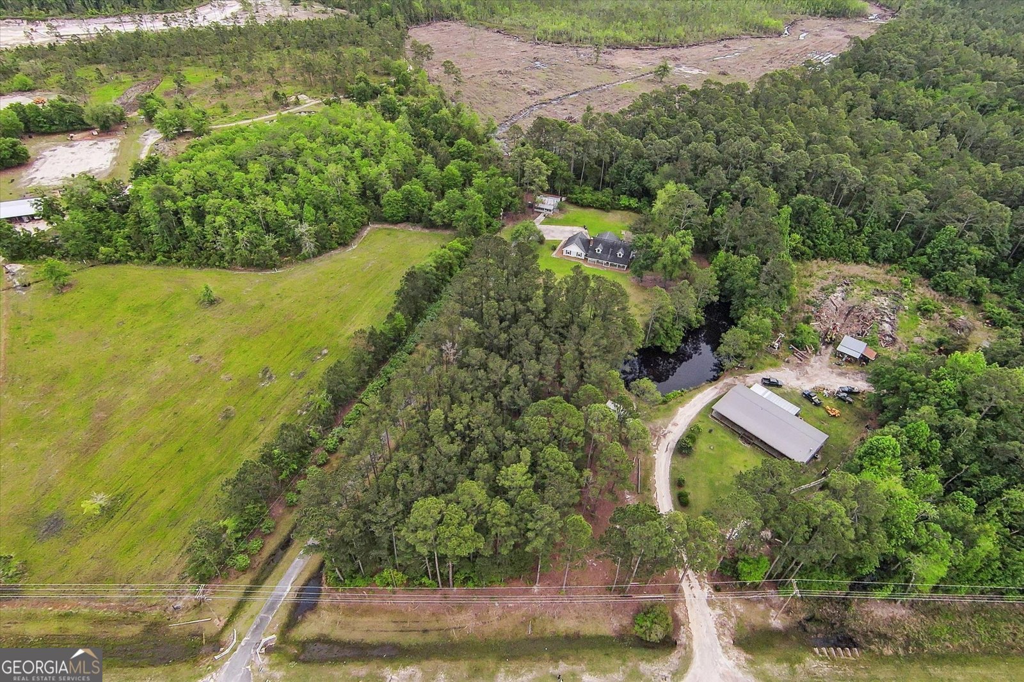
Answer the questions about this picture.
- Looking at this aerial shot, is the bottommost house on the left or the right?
right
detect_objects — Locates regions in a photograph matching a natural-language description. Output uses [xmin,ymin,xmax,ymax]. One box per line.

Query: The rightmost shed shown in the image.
[833,334,878,367]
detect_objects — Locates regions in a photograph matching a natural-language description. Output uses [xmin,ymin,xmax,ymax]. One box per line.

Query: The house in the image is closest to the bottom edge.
[710,384,825,465]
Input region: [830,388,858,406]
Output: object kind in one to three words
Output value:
vehicle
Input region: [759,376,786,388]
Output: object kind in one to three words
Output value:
vehicle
